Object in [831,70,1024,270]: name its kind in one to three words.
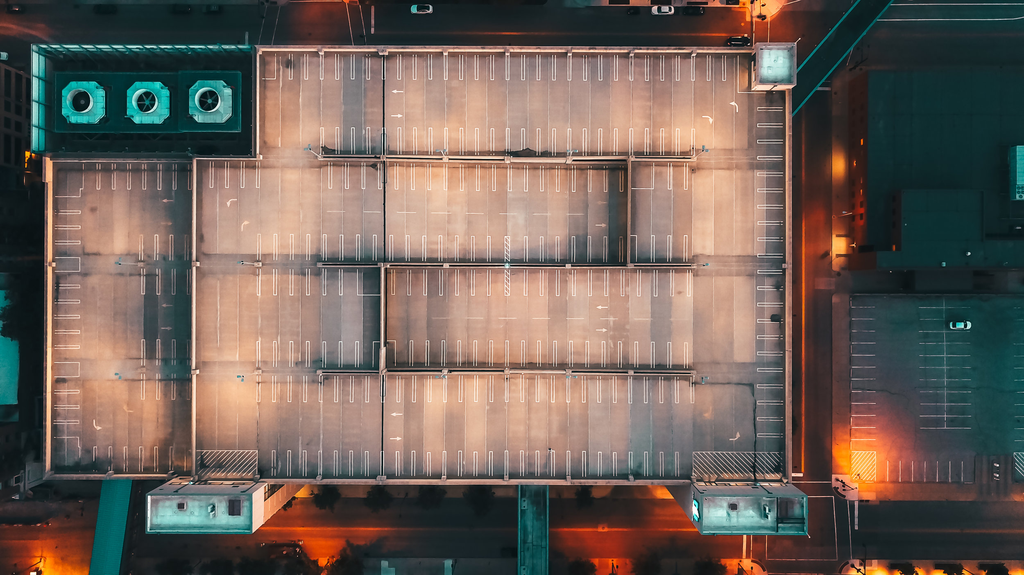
building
